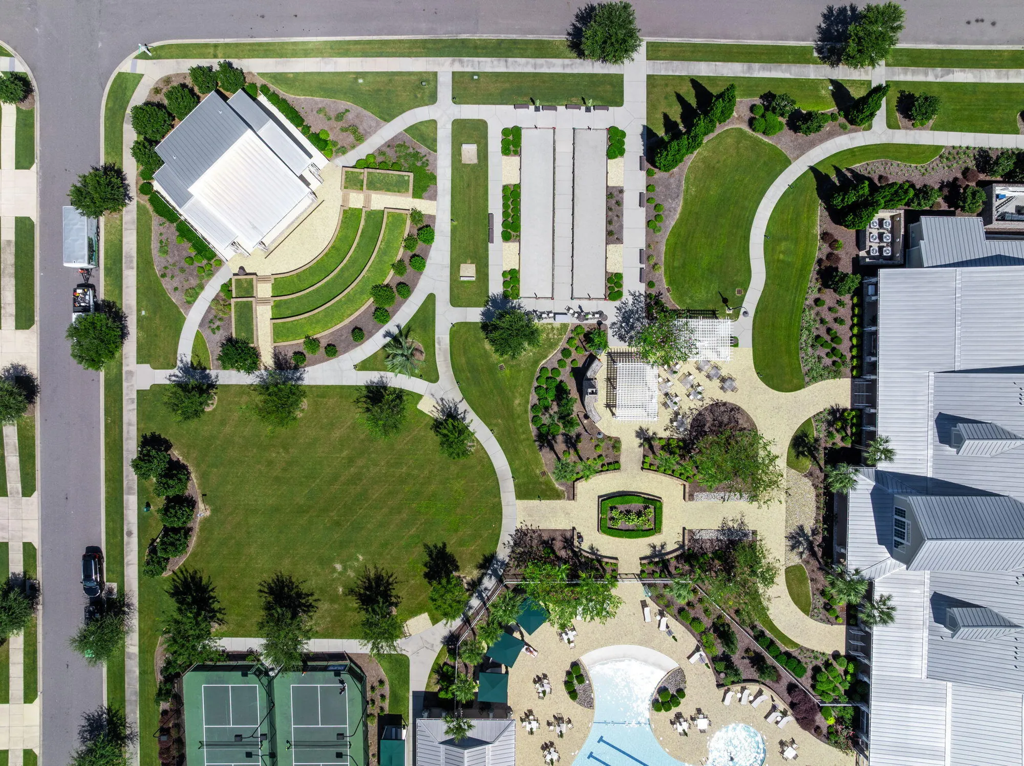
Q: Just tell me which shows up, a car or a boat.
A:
car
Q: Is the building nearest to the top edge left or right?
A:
left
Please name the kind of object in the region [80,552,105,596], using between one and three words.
car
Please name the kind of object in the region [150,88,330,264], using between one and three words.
building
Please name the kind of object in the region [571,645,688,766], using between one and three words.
swimming pool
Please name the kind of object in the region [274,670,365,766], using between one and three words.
sports court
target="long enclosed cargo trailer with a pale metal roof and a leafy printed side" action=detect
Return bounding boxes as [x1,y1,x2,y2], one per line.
[63,205,100,285]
